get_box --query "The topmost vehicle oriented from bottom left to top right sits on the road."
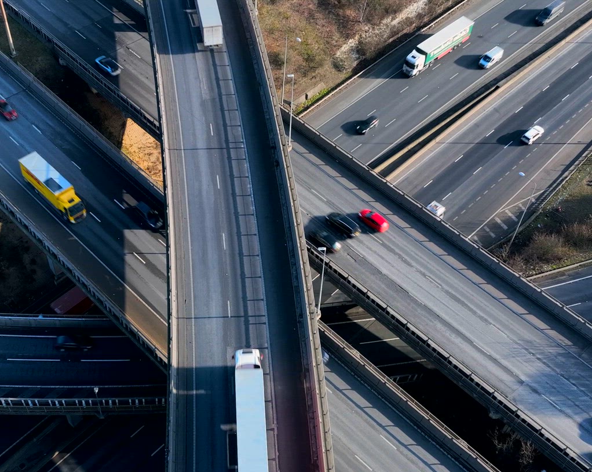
[539,1,563,23]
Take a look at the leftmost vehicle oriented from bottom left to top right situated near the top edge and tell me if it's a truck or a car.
truck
